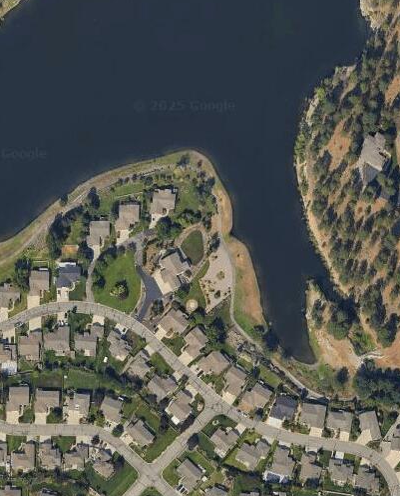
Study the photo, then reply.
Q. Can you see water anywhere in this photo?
Yes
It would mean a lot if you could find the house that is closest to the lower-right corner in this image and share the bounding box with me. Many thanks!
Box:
[357,466,382,493]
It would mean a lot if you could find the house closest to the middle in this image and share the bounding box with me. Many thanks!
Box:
[160,250,195,290]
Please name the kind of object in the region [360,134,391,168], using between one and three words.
house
